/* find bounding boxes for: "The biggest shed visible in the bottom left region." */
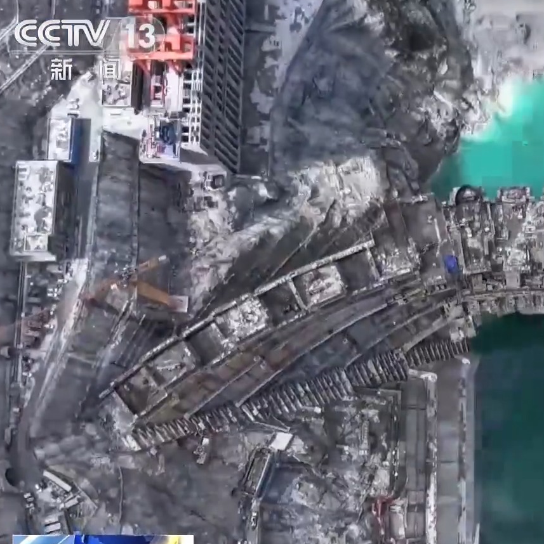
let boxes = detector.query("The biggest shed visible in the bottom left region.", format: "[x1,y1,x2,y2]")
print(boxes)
[43,468,76,492]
